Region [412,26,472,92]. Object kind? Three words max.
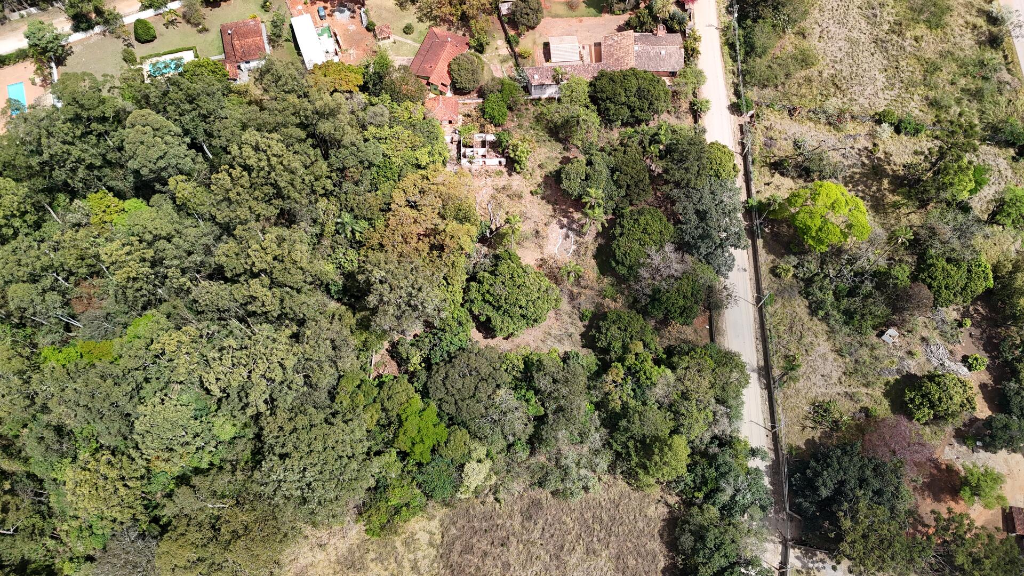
house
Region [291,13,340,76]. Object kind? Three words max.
building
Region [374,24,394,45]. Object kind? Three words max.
gazebo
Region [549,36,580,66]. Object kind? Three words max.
shed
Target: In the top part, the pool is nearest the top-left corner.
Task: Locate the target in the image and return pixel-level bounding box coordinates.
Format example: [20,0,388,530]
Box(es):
[8,82,26,114]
